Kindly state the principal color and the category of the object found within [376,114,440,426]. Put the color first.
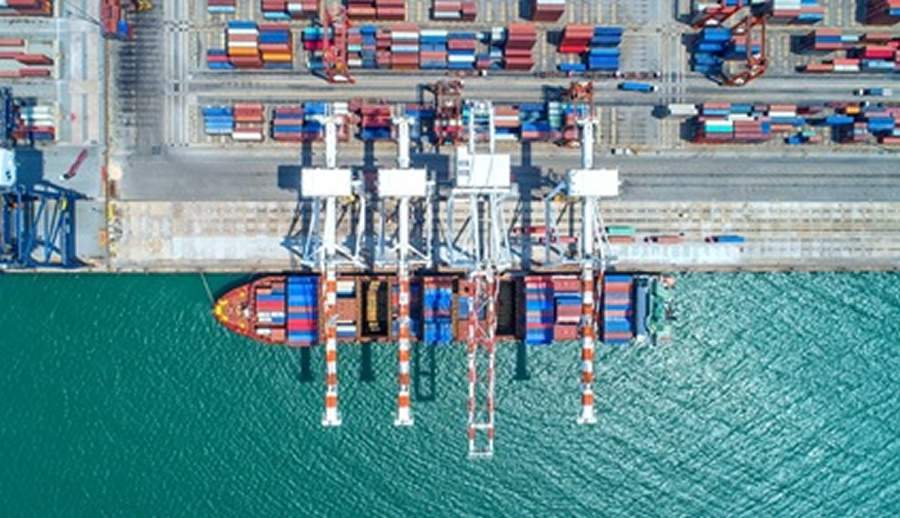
white container crane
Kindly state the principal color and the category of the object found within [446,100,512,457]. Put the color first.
white container crane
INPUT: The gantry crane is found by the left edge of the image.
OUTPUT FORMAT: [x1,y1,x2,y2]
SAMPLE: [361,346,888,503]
[0,85,99,277]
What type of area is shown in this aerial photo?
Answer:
port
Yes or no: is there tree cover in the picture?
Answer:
No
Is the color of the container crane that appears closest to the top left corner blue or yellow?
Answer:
blue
